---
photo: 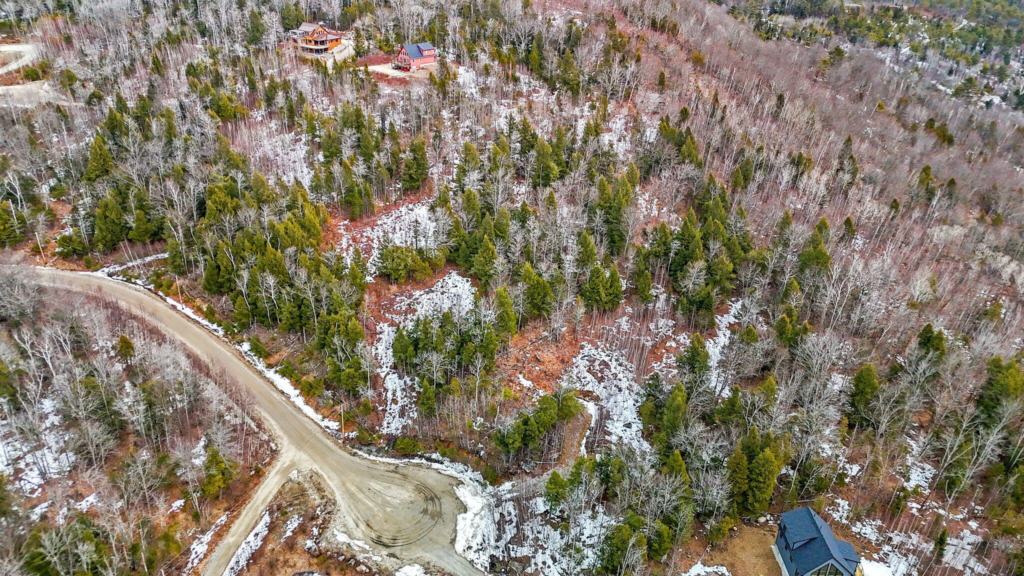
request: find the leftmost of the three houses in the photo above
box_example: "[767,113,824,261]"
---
[287,22,342,52]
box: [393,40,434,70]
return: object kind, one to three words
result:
house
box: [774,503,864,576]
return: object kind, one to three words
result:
house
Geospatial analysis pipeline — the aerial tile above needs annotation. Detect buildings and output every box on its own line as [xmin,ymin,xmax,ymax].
[287,22,342,52]
[774,503,864,576]
[393,40,434,70]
